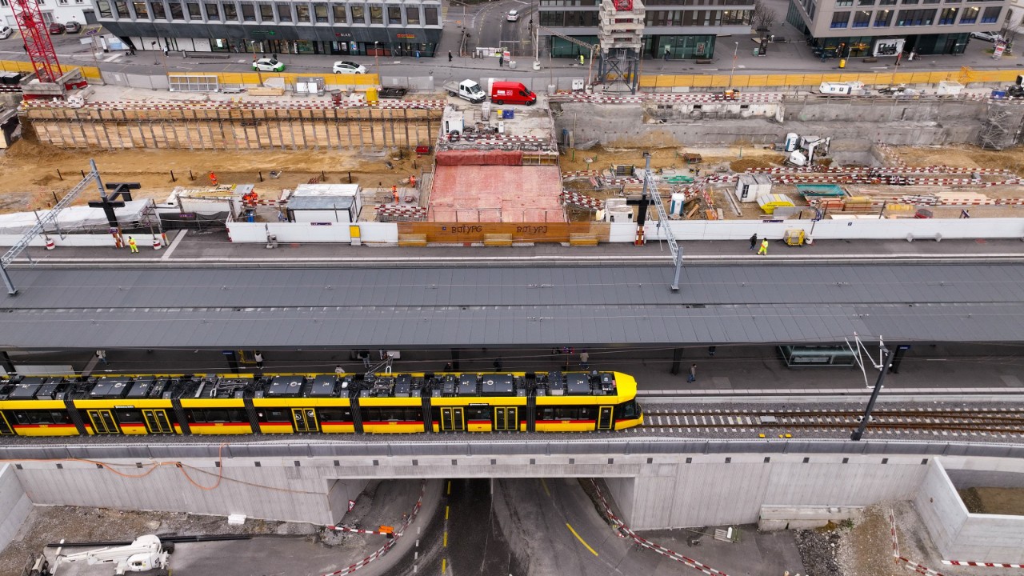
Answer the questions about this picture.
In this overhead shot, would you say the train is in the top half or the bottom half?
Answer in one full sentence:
The train is in the bottom half of the image.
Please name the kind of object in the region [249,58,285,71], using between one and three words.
vehicle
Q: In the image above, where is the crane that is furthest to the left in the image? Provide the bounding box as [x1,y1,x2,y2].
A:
[12,0,89,96]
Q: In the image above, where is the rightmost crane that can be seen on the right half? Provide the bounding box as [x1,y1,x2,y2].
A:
[597,0,652,92]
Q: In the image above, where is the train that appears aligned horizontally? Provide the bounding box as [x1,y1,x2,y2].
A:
[0,355,645,435]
